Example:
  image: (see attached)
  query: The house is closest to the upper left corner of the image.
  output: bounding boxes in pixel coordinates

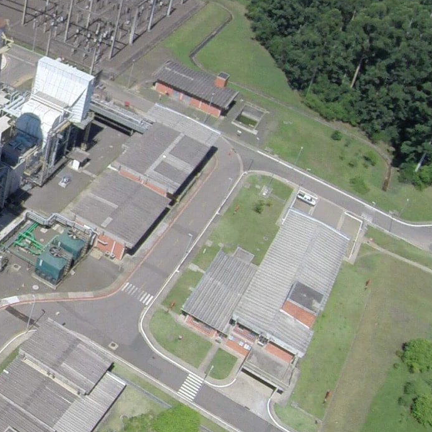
[18,55,99,141]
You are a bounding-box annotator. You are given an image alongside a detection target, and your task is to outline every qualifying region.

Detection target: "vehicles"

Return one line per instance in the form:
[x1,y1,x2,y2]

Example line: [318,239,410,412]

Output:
[297,191,320,204]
